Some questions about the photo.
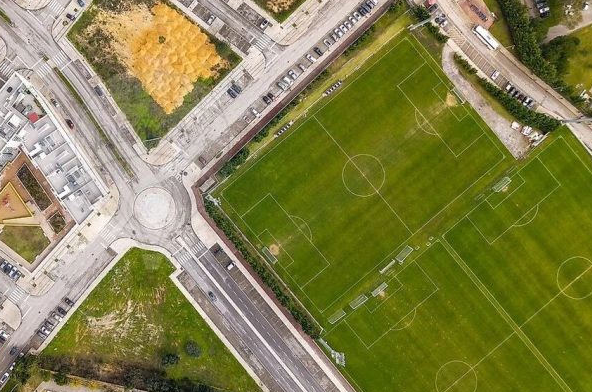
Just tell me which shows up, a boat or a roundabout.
roundabout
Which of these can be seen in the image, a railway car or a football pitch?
football pitch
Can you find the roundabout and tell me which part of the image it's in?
left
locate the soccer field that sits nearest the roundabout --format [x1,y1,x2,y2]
[212,27,515,323]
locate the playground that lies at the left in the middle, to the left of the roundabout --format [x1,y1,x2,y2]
[0,183,32,221]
